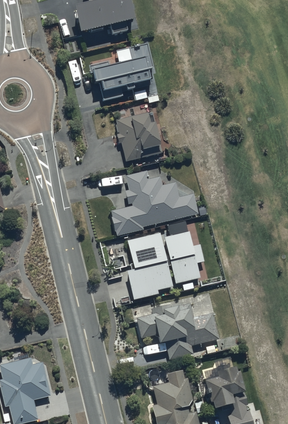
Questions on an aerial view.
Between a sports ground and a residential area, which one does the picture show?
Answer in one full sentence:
This looks like a residential area.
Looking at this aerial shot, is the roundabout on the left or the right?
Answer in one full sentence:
You can find the roundabout on the left side of the picture.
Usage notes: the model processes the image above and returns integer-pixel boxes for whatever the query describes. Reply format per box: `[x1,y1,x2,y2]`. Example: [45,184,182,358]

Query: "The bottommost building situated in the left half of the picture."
[0,358,50,424]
